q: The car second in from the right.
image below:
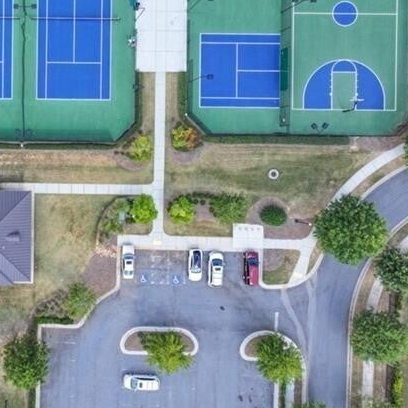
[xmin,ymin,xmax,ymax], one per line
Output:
[208,251,225,286]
